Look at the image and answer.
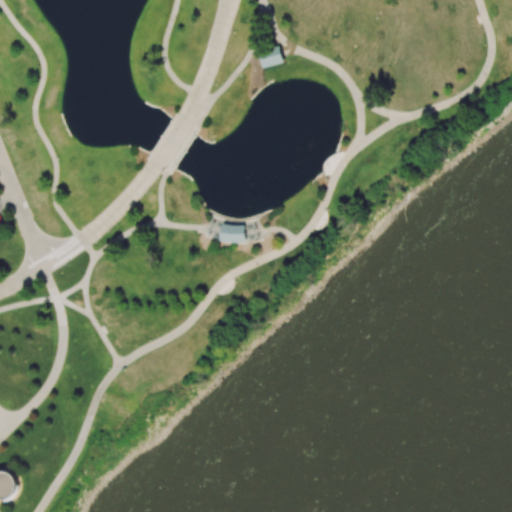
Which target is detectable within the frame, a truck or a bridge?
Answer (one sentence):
It is a bridge that can be seen here.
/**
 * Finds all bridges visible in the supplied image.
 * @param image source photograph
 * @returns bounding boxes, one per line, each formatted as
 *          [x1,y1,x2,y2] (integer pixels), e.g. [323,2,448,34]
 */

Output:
[144,106,204,174]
